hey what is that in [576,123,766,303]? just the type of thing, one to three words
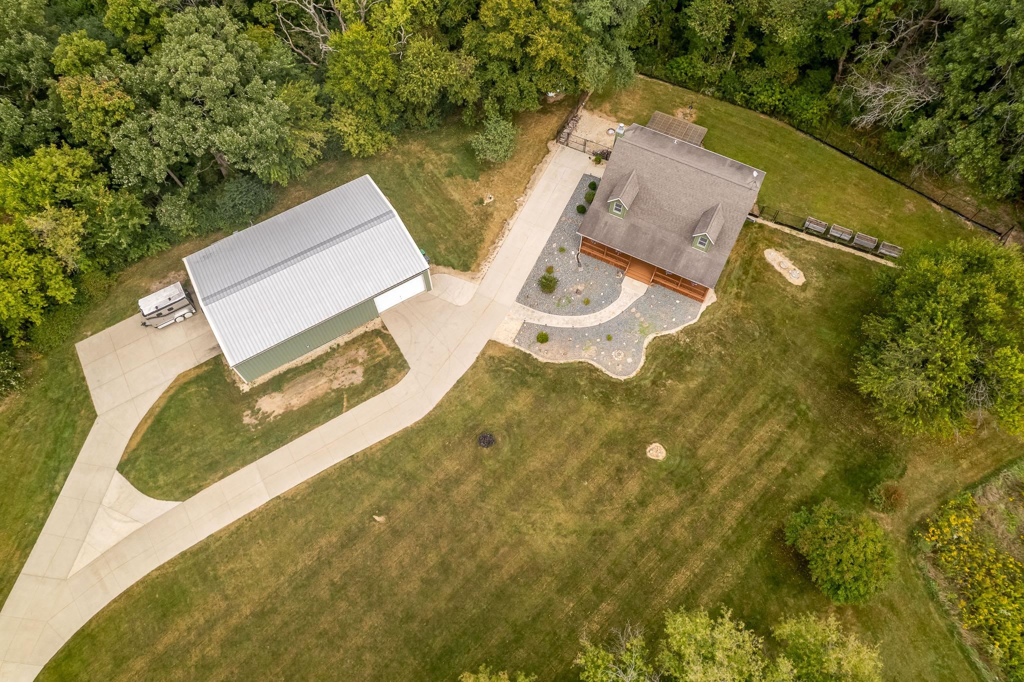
house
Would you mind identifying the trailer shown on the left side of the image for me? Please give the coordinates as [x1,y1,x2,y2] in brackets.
[139,282,196,325]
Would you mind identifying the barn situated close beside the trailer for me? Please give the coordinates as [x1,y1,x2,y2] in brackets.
[181,174,433,384]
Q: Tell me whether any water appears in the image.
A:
No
